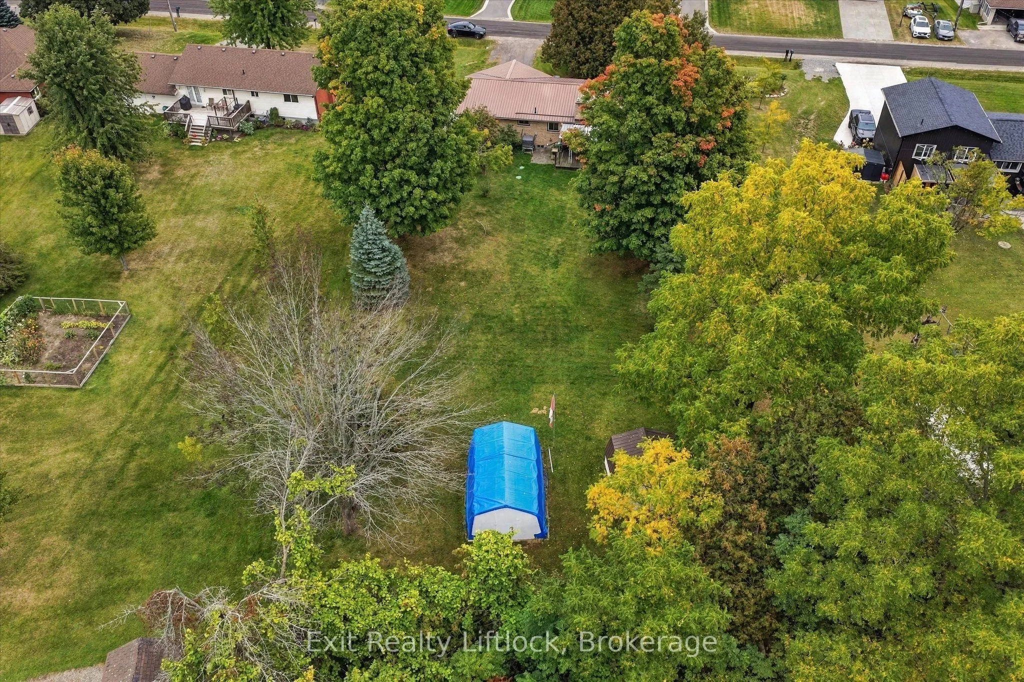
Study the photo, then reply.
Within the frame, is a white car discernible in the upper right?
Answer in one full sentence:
Yes, a white car appears in the upper right.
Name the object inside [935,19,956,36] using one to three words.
car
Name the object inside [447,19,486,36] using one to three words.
car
